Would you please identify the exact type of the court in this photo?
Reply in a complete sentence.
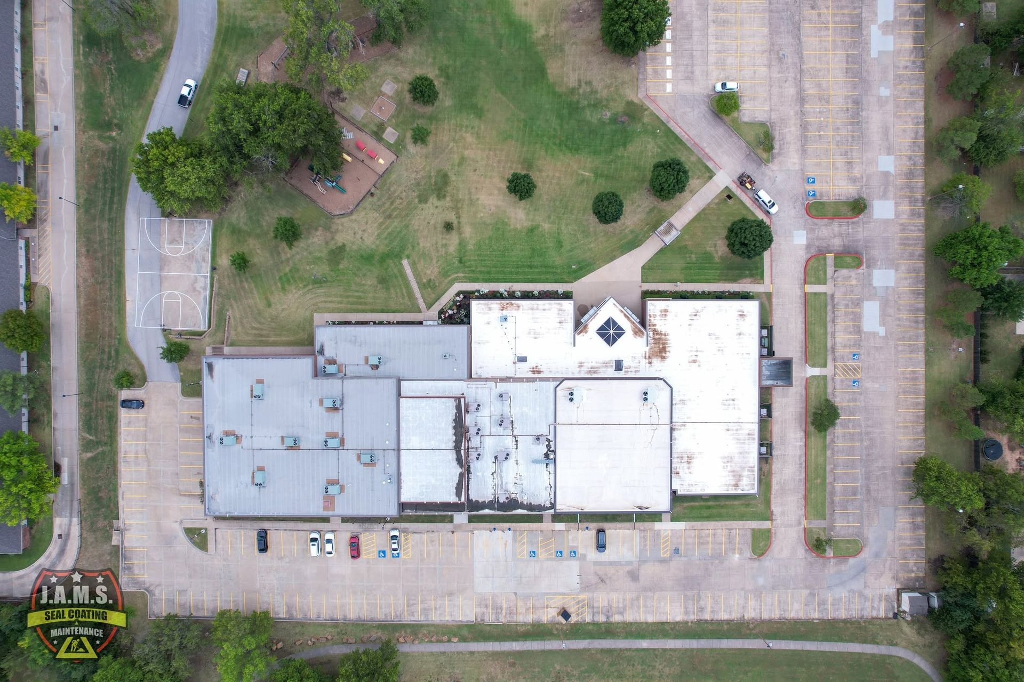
It turns out the court is a basketball court.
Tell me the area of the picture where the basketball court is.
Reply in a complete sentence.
The basketball court sits in the left section of the image.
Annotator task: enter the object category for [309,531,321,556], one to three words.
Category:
vehicle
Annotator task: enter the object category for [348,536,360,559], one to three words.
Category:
vehicle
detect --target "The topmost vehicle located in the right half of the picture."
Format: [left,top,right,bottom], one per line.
[715,80,739,92]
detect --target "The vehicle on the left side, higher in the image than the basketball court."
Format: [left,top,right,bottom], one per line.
[178,79,197,109]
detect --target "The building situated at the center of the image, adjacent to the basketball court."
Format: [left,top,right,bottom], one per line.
[202,297,760,518]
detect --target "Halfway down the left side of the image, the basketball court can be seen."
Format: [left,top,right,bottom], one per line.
[135,216,213,331]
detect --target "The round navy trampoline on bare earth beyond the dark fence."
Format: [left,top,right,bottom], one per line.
[983,441,1003,460]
